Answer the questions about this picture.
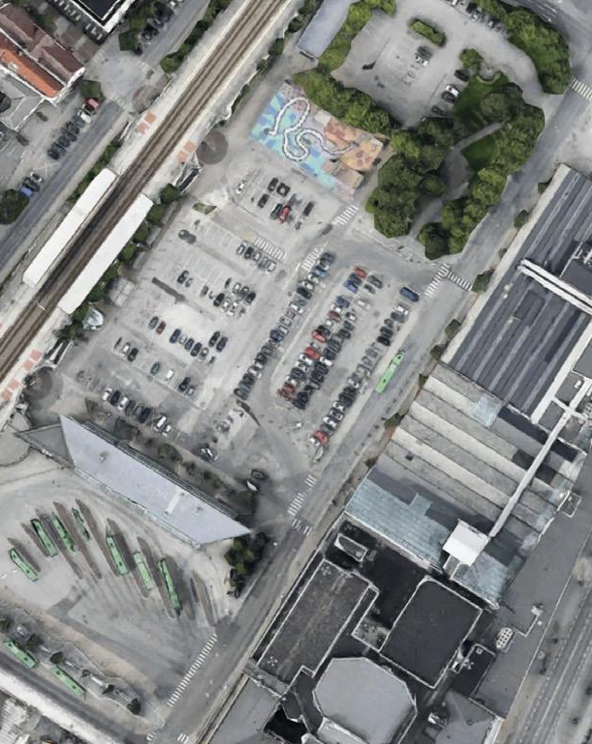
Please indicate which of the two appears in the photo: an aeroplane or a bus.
bus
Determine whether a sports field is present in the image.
No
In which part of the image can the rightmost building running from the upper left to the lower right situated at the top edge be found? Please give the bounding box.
[48,0,112,46]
